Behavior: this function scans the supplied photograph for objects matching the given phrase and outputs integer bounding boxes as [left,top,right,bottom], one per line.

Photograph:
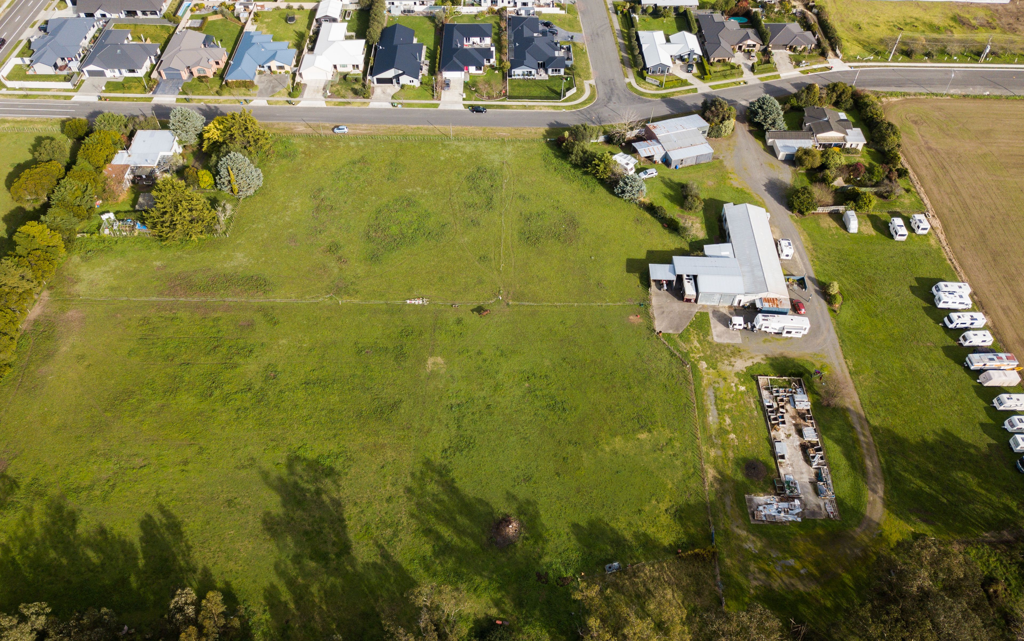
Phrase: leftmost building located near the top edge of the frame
[30,18,97,74]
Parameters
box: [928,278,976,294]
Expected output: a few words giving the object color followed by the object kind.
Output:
white camper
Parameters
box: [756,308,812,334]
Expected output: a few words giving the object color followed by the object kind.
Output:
white vehicle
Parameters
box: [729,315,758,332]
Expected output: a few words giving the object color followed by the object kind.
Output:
white vehicle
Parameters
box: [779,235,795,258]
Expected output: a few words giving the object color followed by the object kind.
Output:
white camper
